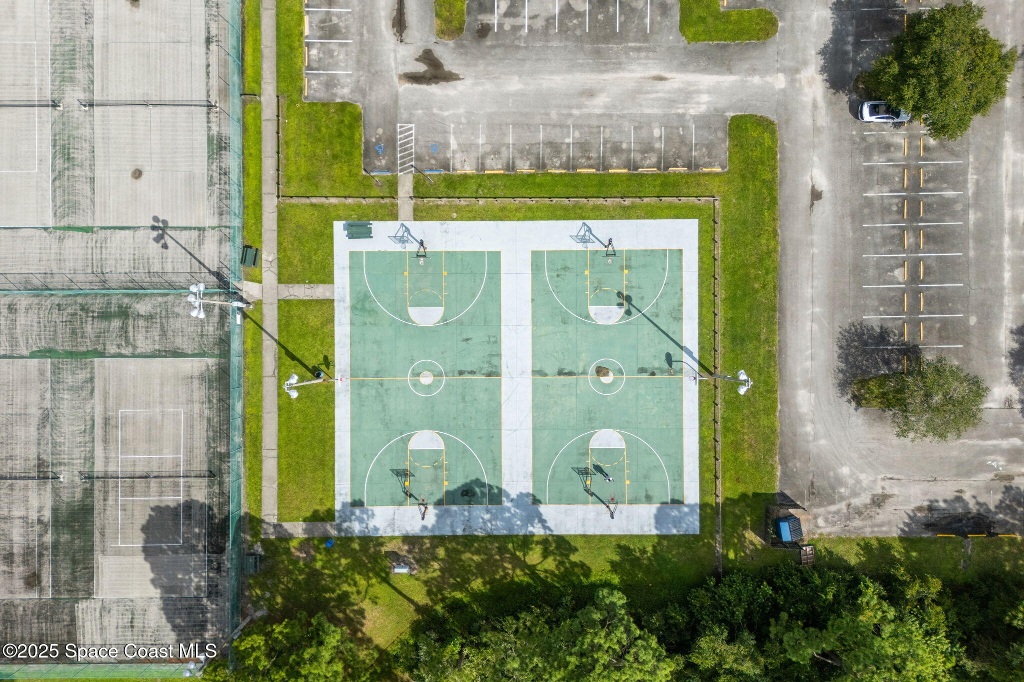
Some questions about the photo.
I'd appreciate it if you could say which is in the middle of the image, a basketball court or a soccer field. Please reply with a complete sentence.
There is a basketball court in the middle of the image.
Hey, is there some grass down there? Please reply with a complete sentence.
Yes, there is grass in the image.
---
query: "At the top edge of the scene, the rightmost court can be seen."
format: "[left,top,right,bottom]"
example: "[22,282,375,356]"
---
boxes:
[94,0,208,226]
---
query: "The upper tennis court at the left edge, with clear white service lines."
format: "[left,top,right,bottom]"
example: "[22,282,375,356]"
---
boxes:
[0,0,51,226]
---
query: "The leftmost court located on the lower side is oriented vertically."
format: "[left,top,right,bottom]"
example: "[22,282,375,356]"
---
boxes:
[0,358,51,599]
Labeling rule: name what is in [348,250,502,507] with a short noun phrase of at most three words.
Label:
basketball court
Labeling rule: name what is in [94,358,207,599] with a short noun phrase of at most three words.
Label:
tennis court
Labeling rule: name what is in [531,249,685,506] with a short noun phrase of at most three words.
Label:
basketball court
